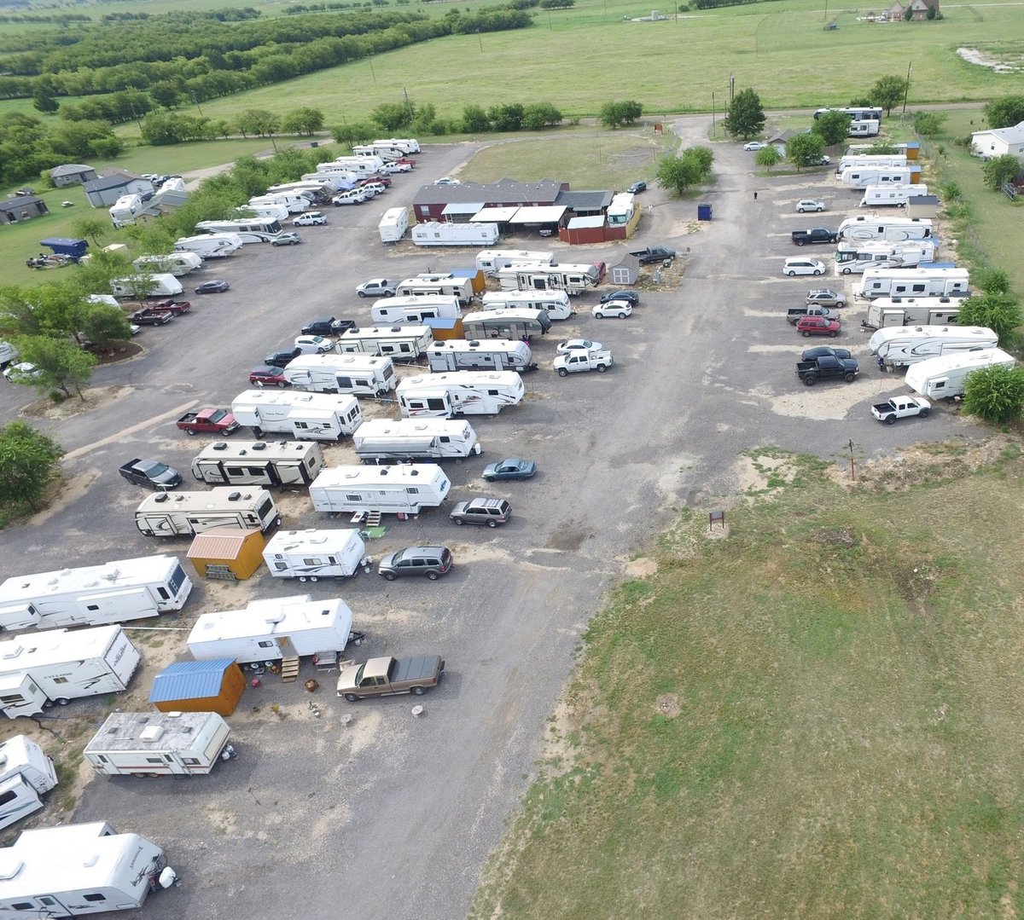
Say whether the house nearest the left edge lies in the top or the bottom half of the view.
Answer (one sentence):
You can find the house nearest the left edge in the top half.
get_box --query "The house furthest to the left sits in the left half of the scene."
[0,190,53,227]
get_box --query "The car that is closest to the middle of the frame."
[476,455,540,481]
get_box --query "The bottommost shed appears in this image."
[140,655,252,716]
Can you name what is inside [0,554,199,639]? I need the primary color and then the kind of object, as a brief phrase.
white camper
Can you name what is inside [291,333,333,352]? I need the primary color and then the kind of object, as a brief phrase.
white car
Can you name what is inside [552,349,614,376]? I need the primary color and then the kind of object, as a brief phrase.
white truck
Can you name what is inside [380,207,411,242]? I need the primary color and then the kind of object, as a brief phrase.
white trailer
